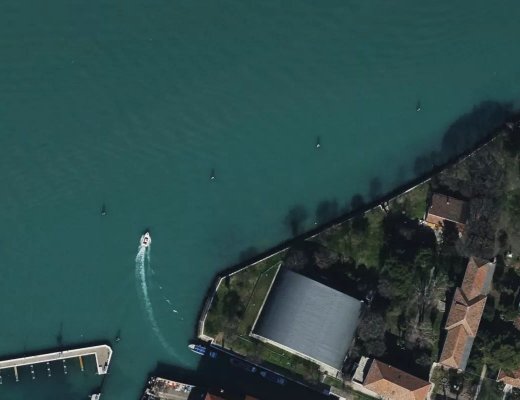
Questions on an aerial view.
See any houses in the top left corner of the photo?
No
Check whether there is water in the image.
Yes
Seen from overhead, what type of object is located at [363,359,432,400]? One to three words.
house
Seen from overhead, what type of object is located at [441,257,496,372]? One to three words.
building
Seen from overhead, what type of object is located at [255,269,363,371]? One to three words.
building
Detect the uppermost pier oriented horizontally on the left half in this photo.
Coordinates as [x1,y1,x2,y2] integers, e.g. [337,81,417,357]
[0,344,112,375]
